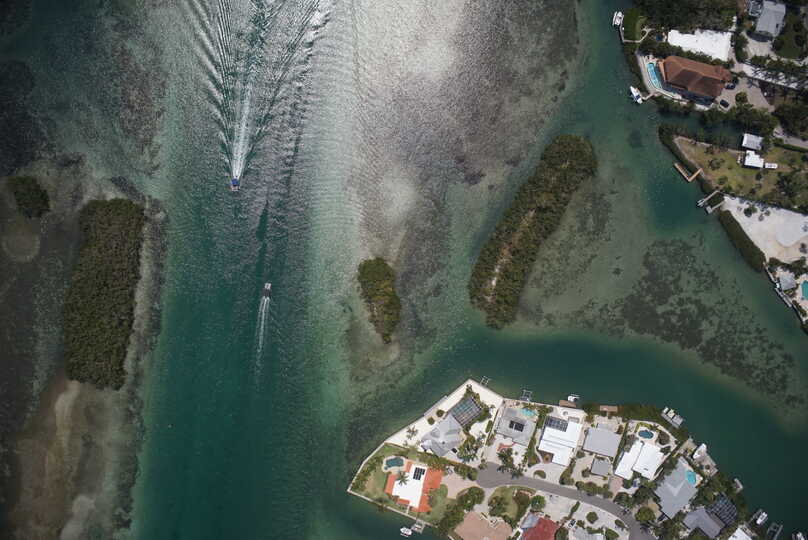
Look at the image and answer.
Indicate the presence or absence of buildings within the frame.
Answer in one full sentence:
Yes, the picture does show a building.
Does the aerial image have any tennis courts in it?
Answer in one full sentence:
No, the photo shows no tennis court.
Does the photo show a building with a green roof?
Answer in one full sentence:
No, there is no building with a green roof in the image.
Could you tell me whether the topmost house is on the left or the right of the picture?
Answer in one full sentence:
You can find the topmost house on the right side of the picture.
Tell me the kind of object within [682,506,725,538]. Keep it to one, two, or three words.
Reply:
house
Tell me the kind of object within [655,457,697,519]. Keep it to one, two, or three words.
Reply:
house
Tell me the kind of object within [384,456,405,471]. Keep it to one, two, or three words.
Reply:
swimming pool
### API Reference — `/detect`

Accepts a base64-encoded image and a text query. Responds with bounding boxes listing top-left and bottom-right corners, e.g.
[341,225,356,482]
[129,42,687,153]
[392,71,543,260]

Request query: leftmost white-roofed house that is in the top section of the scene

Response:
[666,30,731,61]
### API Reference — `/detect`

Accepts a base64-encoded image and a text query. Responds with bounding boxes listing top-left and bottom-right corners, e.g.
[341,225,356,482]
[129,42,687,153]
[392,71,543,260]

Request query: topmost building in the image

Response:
[752,1,785,39]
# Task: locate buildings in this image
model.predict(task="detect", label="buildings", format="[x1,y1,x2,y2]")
[666,30,731,61]
[682,506,725,538]
[724,527,751,540]
[385,460,442,512]
[520,512,558,540]
[571,527,604,540]
[752,1,785,39]
[583,423,620,457]
[591,457,611,476]
[661,56,732,99]
[655,457,697,519]
[742,133,763,150]
[497,410,540,451]
[615,440,664,480]
[778,275,796,291]
[456,512,511,540]
[421,415,462,456]
[743,150,764,167]
[539,421,582,467]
